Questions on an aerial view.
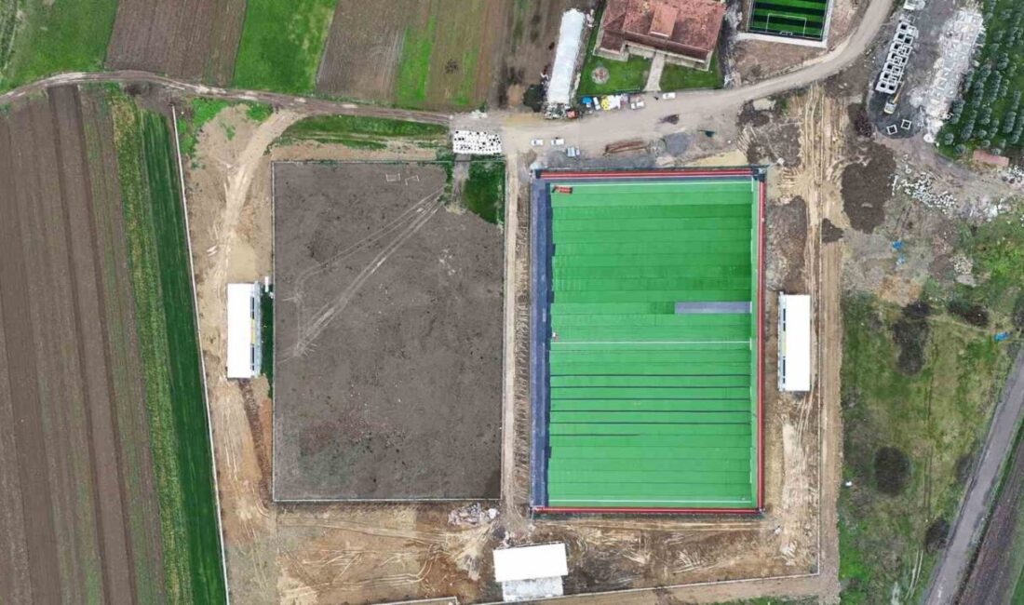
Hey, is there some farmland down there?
Yes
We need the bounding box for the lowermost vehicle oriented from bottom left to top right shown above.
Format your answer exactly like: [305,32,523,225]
[883,75,910,113]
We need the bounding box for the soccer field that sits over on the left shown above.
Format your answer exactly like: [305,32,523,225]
[273,161,503,501]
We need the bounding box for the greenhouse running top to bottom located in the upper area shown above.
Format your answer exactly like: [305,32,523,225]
[547,6,585,105]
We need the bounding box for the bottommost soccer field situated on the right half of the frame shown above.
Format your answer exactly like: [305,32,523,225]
[531,168,763,509]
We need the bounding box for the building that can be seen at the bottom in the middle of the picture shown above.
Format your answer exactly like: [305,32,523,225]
[493,540,568,602]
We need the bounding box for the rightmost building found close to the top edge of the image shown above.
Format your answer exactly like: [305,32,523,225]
[592,0,726,70]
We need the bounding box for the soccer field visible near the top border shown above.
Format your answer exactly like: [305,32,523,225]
[737,0,835,47]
